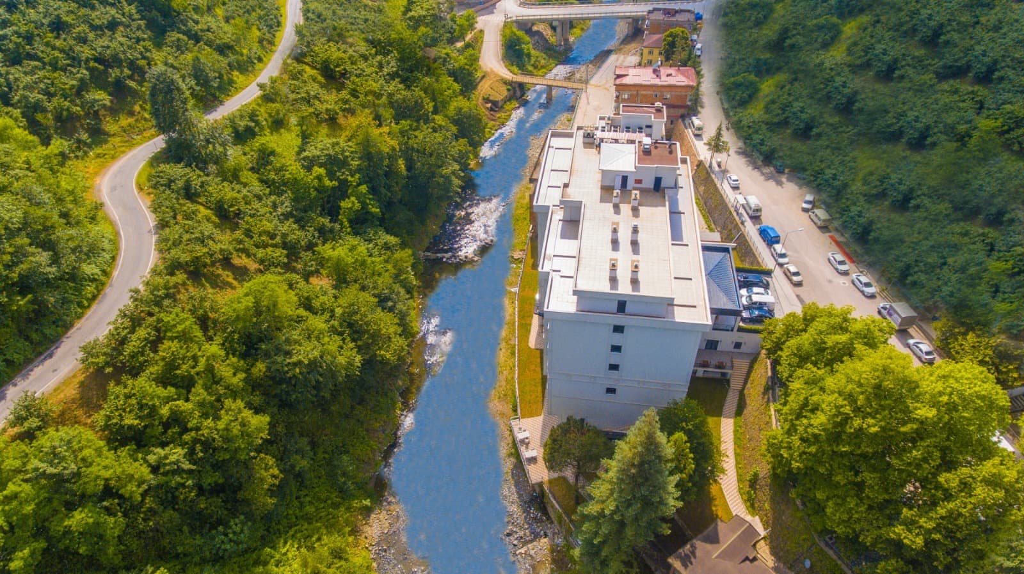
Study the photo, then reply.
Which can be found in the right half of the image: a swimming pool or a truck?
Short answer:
truck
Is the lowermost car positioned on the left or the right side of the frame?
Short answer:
right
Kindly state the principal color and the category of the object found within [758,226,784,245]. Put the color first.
blue vehicle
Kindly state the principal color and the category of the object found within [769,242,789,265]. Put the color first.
white car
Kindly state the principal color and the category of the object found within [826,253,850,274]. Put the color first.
white car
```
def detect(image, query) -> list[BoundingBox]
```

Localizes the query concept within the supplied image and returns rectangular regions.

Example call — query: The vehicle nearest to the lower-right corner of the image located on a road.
[903,338,938,365]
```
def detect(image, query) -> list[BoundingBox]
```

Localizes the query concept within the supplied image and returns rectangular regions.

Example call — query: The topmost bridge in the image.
[505,0,704,41]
